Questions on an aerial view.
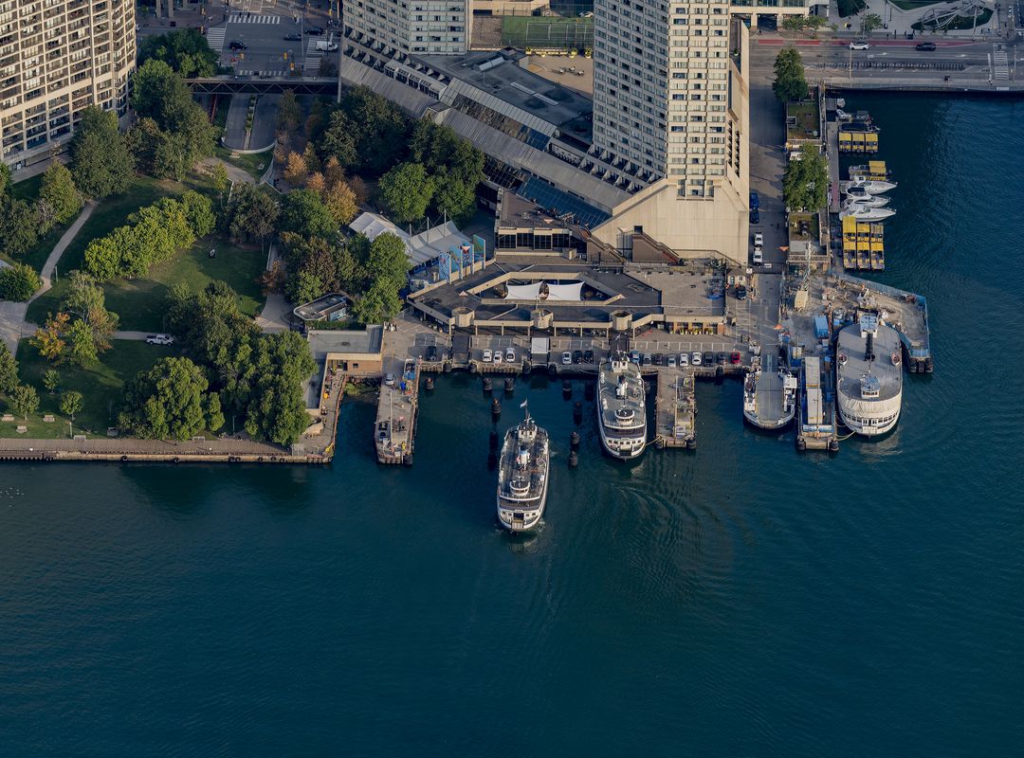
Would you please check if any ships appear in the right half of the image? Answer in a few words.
Yes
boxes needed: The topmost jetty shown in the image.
[826,121,840,215]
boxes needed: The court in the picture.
[501,0,594,49]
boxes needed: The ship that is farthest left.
[497,392,555,532]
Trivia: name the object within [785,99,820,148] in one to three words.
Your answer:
building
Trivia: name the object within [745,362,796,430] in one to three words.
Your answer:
ship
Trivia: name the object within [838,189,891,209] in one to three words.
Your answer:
boat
